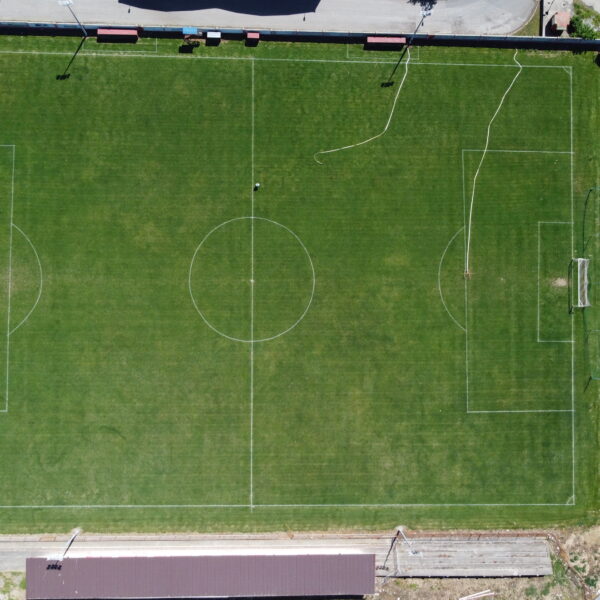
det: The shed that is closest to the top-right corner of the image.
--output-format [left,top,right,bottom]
[549,12,570,33]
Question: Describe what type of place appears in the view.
sports ground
